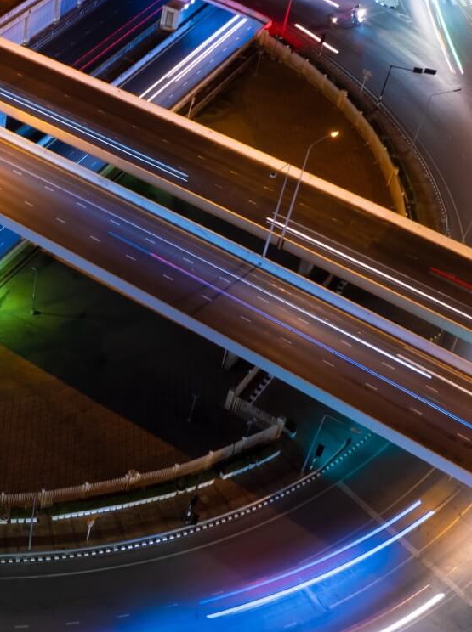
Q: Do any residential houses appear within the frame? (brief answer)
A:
No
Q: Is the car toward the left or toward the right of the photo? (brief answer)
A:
right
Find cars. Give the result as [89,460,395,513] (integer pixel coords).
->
[327,1,367,21]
